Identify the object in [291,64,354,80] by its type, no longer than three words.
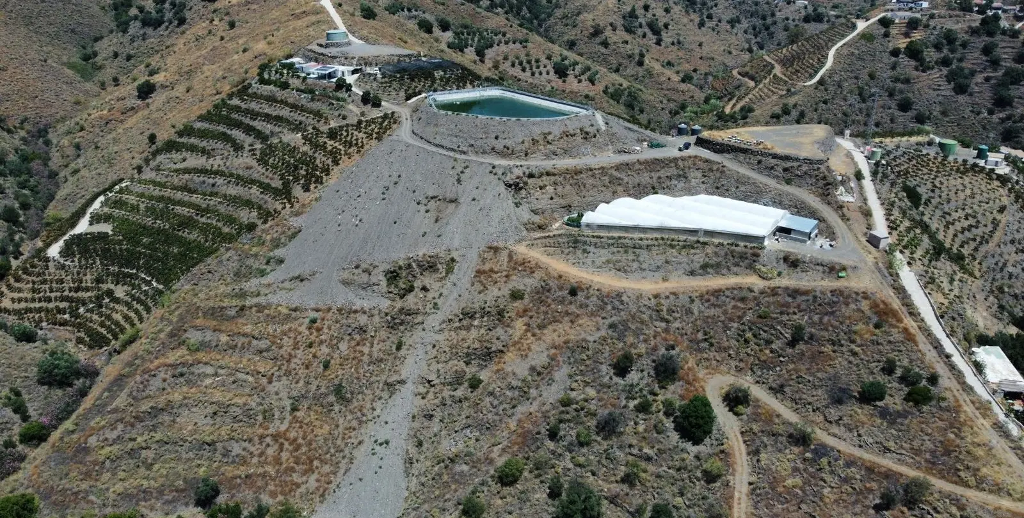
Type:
house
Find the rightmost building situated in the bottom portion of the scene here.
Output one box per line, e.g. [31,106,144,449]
[970,347,1024,397]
